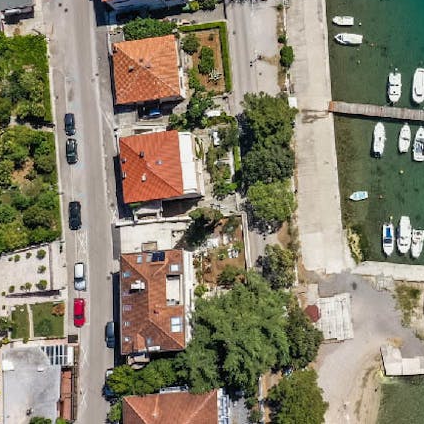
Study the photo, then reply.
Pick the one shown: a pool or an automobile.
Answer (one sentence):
The image shows an automobile.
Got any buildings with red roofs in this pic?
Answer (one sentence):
Yes, the frame does contain a building with a red roof.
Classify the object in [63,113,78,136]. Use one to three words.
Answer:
car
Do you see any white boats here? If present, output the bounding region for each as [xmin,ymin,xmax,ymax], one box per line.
[387,69,402,107]
[412,65,424,106]
[412,226,424,264]
[399,121,410,156]
[398,213,412,262]
[371,120,385,160]
[334,33,366,44]
[413,124,424,165]
[381,220,395,263]
[332,16,357,25]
